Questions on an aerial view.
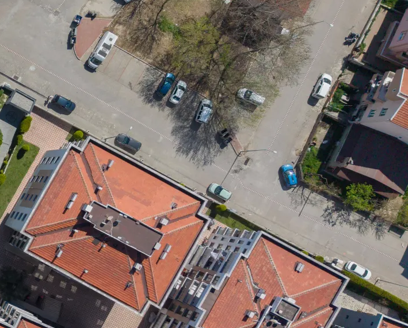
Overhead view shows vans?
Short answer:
Yes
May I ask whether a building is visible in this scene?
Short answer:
Yes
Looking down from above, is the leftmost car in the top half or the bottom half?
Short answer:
top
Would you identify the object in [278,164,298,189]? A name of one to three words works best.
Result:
car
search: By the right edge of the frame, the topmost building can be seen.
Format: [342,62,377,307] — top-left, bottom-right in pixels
[362,20,408,71]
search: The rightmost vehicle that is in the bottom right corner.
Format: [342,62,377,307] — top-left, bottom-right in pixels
[342,260,370,278]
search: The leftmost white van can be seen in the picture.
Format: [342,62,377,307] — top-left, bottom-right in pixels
[90,30,121,67]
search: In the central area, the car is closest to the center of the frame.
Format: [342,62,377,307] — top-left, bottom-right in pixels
[206,182,233,202]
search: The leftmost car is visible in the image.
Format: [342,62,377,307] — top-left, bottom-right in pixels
[46,93,74,113]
